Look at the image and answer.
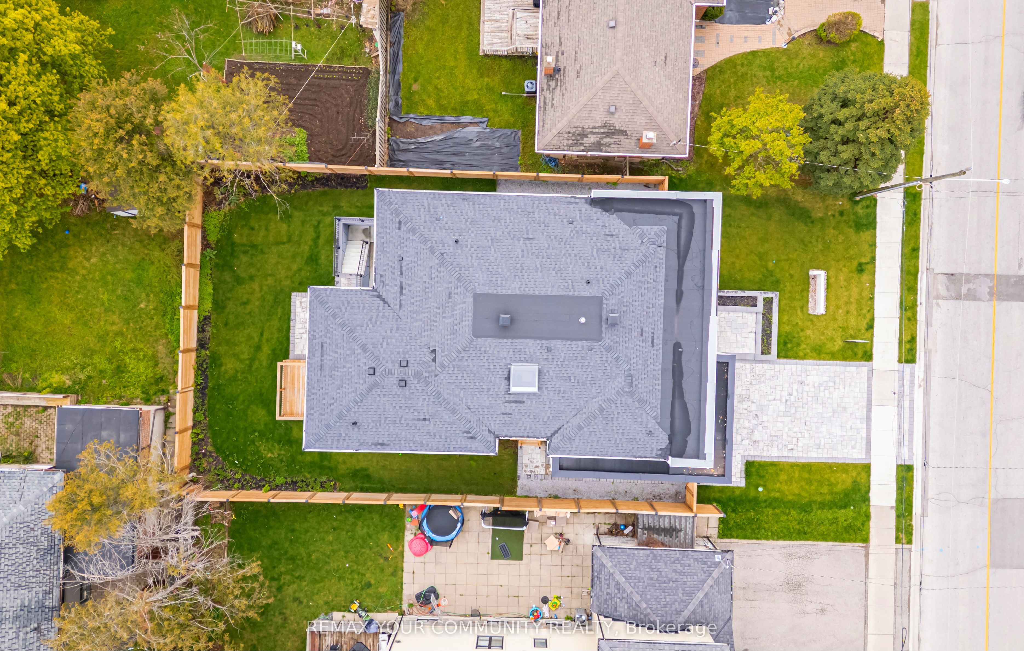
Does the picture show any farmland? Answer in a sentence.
No, farmland can't be seen anywhere here.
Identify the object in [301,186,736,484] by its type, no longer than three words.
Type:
house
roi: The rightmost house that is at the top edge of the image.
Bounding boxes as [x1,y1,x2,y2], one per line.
[534,0,729,161]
